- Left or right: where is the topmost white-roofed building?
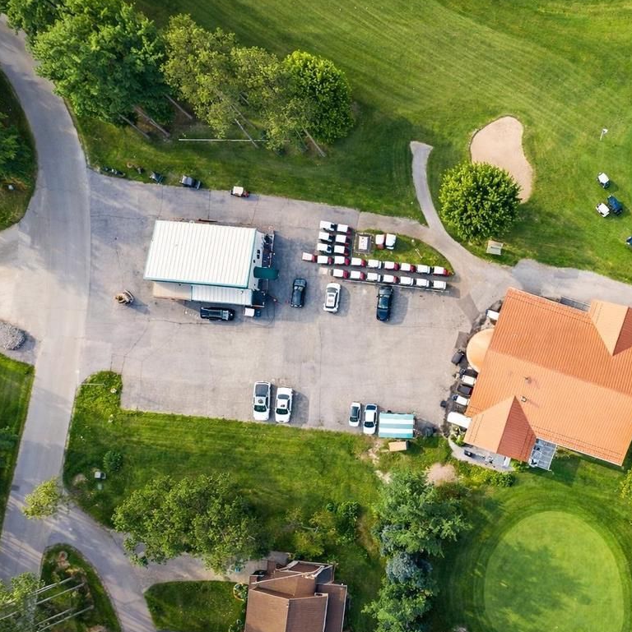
left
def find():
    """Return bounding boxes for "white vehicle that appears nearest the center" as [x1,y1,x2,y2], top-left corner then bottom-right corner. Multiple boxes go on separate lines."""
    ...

[324,283,342,315]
